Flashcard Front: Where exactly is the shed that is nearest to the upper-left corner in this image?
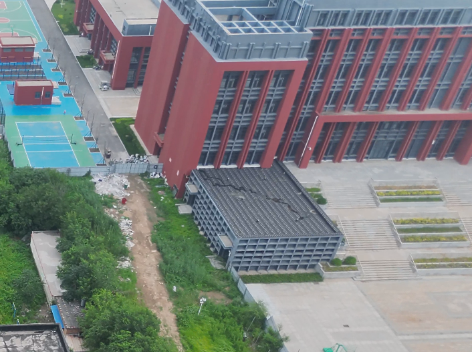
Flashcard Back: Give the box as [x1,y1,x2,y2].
[0,34,45,63]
